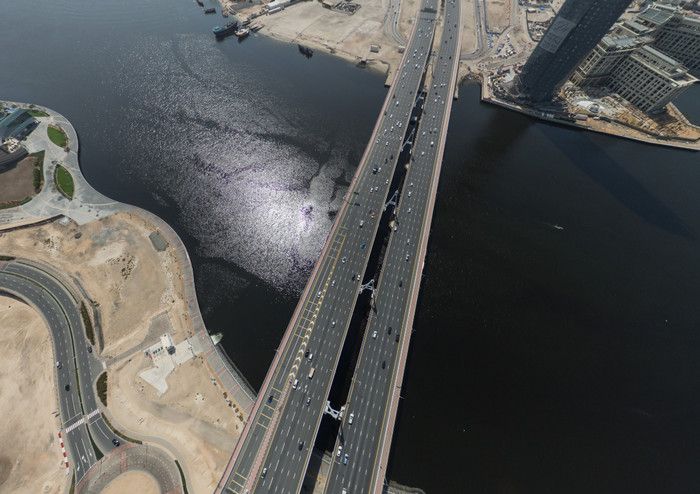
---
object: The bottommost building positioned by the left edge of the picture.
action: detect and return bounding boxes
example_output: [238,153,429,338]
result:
[0,150,34,179]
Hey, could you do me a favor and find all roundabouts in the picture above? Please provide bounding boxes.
[69,439,185,494]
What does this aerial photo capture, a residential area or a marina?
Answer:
marina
